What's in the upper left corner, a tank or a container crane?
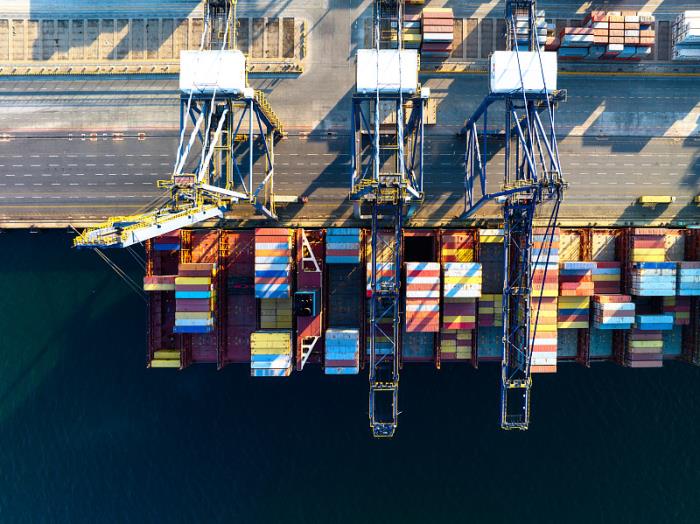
container crane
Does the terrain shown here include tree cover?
No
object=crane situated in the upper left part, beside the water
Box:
[70,0,293,249]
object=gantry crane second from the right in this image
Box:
[347,0,432,441]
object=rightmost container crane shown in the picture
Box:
[446,0,572,435]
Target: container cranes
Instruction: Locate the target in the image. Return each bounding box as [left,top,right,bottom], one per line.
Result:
[446,0,572,435]
[70,0,293,249]
[347,0,432,441]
